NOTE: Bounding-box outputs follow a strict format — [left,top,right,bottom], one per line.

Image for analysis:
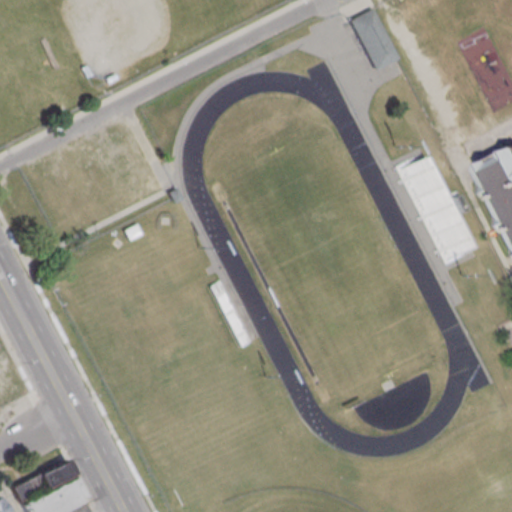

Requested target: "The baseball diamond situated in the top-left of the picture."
[61,0,170,80]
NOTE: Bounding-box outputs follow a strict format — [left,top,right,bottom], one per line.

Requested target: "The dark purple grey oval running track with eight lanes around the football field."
[182,62,490,459]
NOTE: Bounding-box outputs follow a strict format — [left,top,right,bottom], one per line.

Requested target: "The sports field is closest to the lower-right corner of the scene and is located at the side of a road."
[202,92,450,438]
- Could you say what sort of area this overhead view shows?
sports ground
